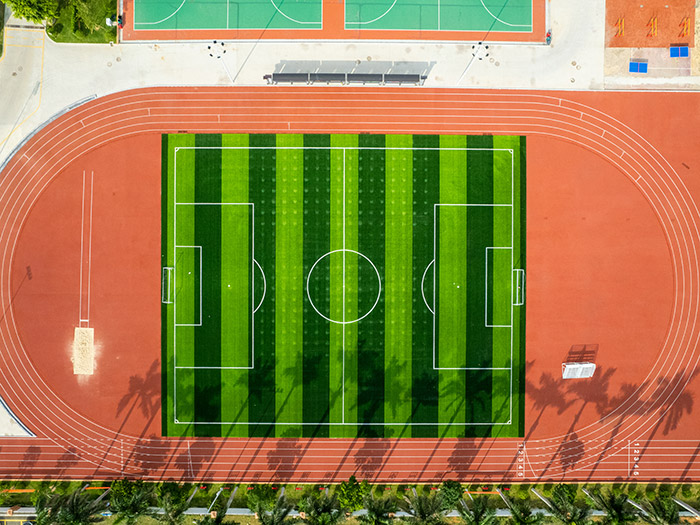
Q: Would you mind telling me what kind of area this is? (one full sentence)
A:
This image shows a sports ground.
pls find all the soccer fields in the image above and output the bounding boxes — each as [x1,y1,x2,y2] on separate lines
[161,134,526,438]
